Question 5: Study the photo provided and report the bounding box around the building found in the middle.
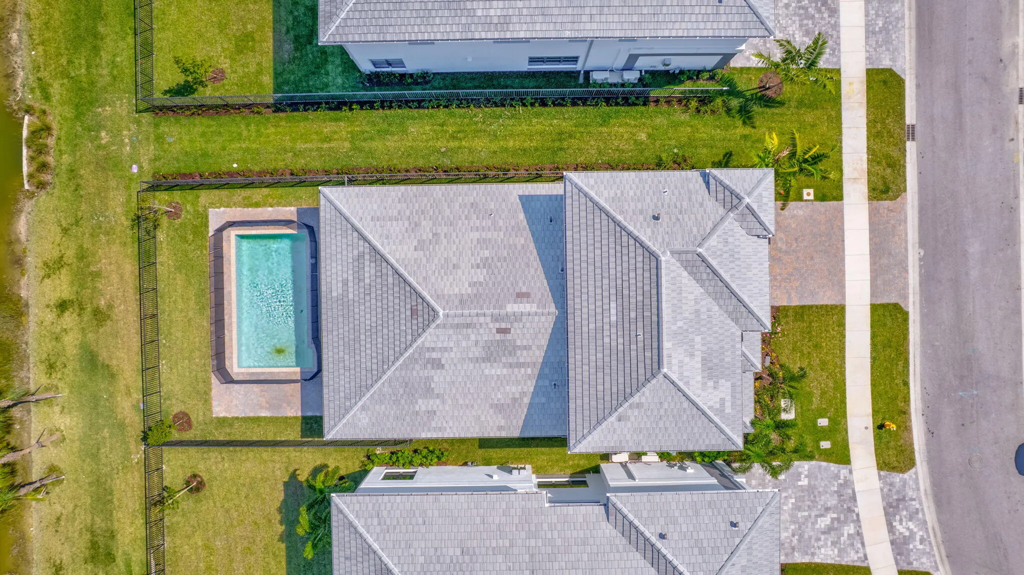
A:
[318,162,780,455]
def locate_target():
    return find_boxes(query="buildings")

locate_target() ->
[315,0,778,75]
[318,162,780,455]
[329,460,785,575]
